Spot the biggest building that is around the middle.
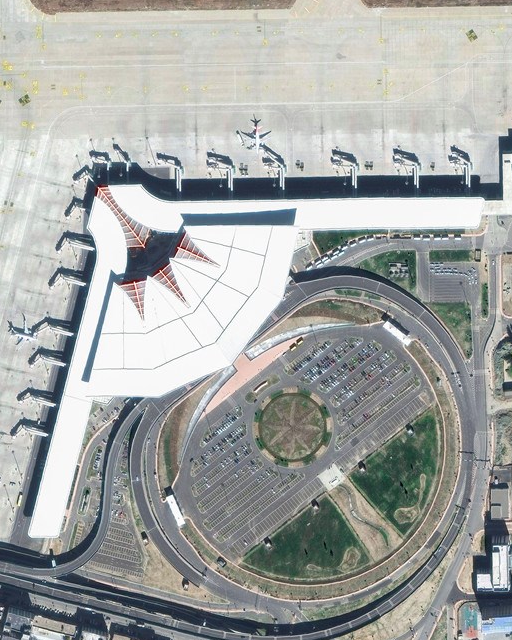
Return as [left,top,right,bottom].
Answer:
[28,179,486,538]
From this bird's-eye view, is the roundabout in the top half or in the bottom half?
bottom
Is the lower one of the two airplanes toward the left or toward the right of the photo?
left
